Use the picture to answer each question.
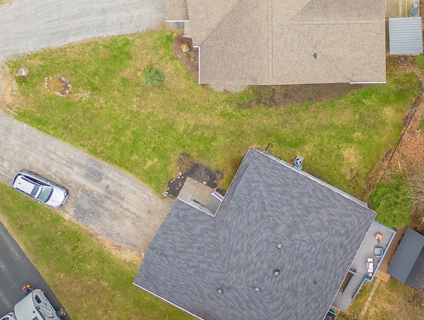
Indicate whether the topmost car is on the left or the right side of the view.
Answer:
left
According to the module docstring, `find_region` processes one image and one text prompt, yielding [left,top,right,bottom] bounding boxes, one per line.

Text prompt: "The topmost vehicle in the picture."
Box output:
[7,168,70,210]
